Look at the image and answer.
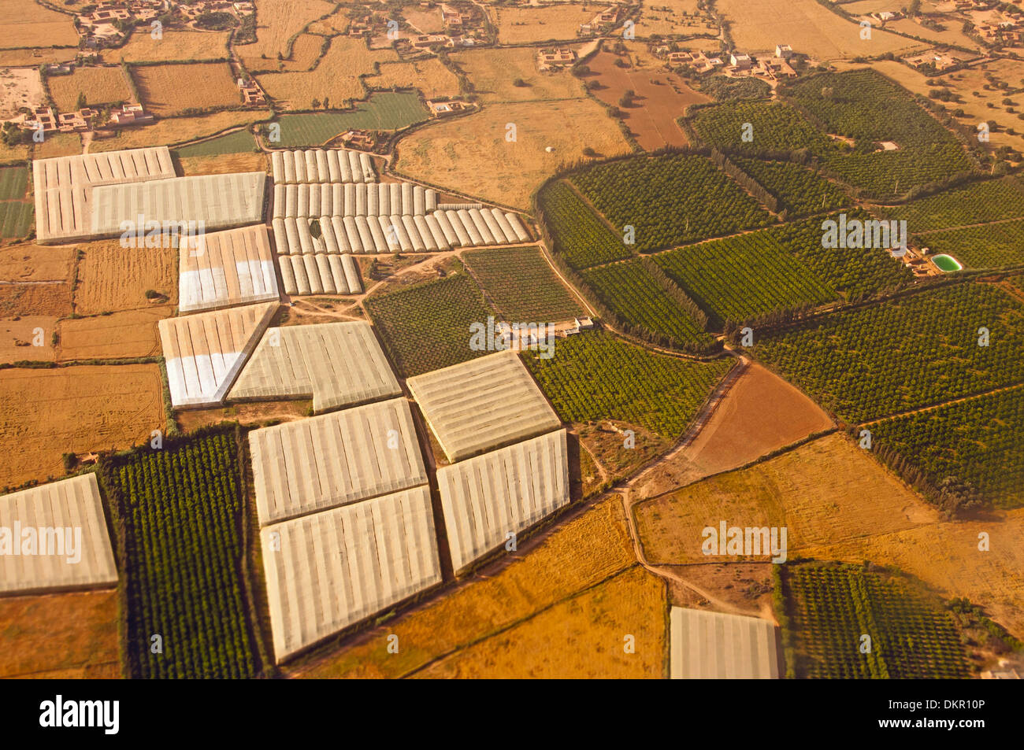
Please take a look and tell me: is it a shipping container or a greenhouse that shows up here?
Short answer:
greenhouse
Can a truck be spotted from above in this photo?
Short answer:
No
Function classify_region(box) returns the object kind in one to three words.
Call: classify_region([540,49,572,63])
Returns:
house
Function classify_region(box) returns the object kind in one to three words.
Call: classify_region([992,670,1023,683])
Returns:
house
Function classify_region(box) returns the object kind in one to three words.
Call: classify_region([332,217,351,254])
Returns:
greenhouse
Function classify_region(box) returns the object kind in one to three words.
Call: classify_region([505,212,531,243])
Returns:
greenhouse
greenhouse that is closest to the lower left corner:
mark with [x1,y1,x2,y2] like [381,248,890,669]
[0,473,120,601]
